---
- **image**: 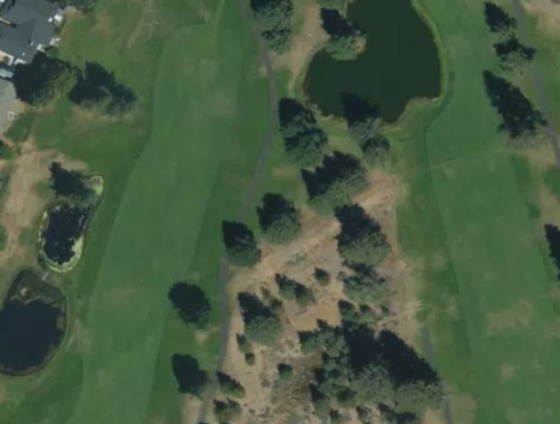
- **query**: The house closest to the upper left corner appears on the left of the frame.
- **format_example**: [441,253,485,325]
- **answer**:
[0,0,57,62]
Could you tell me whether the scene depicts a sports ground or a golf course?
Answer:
golf course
